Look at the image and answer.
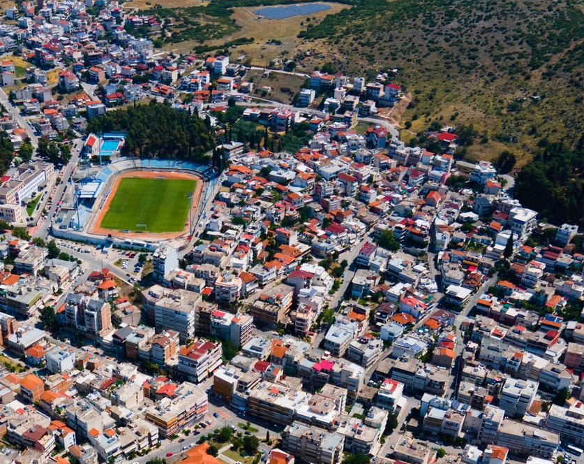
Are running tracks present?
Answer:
Yes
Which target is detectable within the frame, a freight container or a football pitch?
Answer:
football pitch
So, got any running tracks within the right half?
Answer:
No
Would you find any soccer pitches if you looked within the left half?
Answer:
Yes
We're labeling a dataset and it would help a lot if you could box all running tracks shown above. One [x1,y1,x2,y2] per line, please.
[94,172,201,238]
